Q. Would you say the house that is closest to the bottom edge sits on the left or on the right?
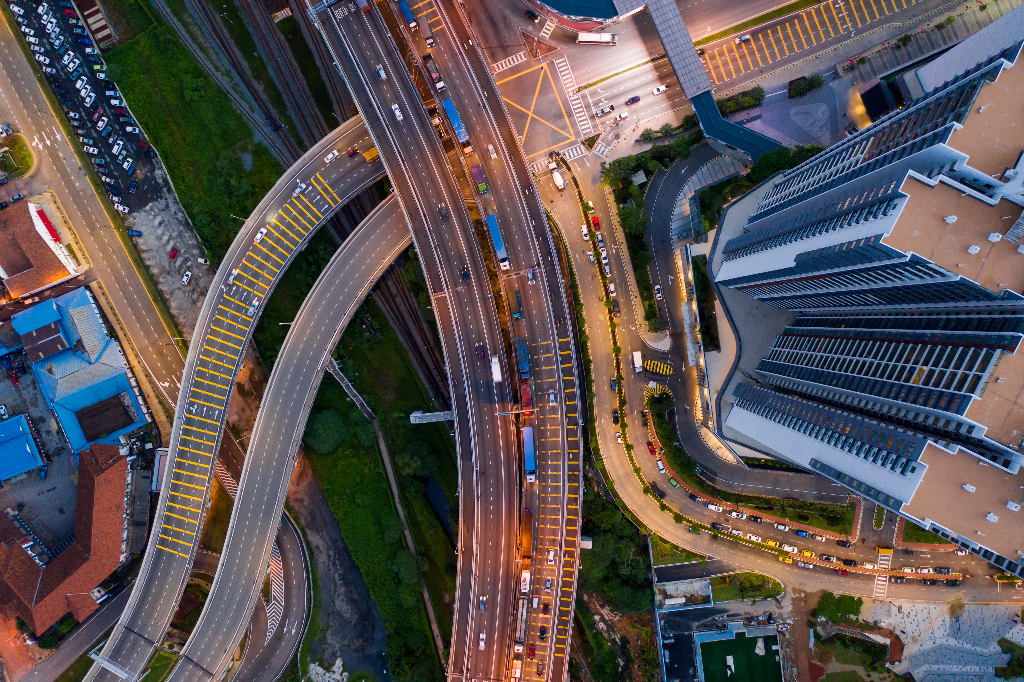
right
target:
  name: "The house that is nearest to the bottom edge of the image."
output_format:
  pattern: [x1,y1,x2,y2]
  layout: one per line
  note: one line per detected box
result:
[692,618,783,682]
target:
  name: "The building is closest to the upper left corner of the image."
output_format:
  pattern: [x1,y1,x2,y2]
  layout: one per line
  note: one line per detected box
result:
[75,0,121,53]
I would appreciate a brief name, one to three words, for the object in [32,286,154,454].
house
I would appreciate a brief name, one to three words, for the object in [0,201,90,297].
house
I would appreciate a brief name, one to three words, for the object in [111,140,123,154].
vehicle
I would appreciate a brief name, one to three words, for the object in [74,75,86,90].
vehicle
